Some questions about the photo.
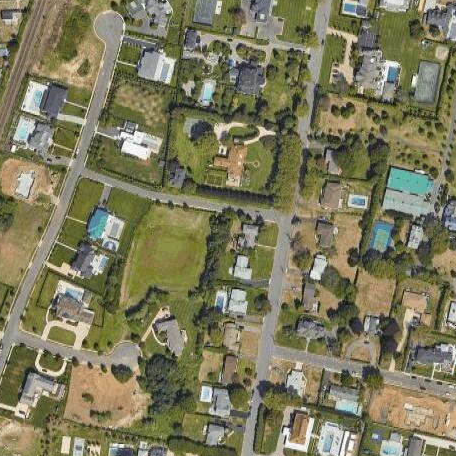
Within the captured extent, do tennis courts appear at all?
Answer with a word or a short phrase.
Yes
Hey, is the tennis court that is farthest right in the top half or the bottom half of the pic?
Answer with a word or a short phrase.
top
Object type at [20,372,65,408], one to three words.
house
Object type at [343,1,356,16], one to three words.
swimming pool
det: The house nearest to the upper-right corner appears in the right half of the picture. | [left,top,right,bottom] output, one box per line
[431,1,456,31]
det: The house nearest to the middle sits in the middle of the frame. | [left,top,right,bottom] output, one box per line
[237,222,260,248]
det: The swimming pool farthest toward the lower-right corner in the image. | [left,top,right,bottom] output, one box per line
[381,441,404,456]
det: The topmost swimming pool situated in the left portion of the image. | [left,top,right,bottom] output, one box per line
[159,57,177,84]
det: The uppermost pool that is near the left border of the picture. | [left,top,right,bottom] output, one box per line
[21,84,45,115]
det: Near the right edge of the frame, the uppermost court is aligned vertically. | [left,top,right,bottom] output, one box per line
[415,61,439,103]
